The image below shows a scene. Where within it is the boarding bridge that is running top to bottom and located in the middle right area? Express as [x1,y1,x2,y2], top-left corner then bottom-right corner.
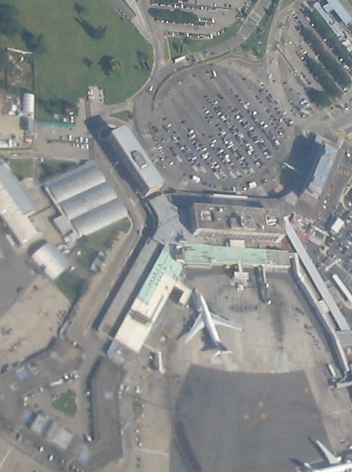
[258,265,271,305]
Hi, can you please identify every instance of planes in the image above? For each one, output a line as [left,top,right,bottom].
[188,289,241,353]
[300,443,352,472]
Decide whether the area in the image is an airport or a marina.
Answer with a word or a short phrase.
airport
